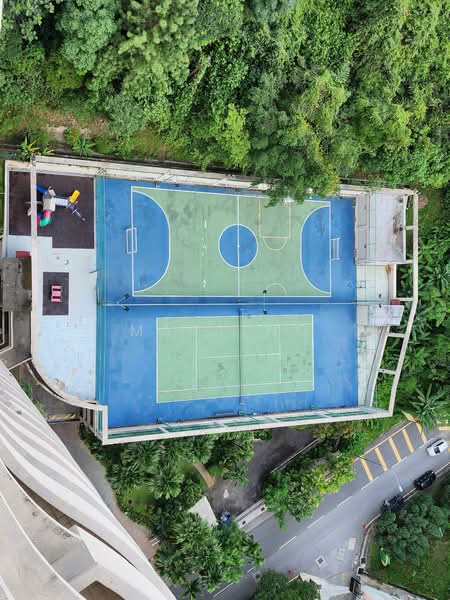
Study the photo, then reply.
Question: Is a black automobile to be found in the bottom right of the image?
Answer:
Yes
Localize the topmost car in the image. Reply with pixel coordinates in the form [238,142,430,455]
[425,437,448,456]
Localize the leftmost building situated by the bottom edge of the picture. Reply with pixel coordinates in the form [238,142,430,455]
[0,360,176,600]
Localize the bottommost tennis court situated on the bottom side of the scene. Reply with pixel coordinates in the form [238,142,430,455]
[101,302,359,428]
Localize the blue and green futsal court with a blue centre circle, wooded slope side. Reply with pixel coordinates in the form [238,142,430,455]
[101,179,358,303]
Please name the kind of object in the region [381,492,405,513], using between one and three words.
car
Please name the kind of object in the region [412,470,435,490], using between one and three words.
car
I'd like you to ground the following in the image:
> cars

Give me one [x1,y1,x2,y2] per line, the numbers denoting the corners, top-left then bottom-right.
[381,492,405,513]
[425,437,448,456]
[412,470,435,490]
